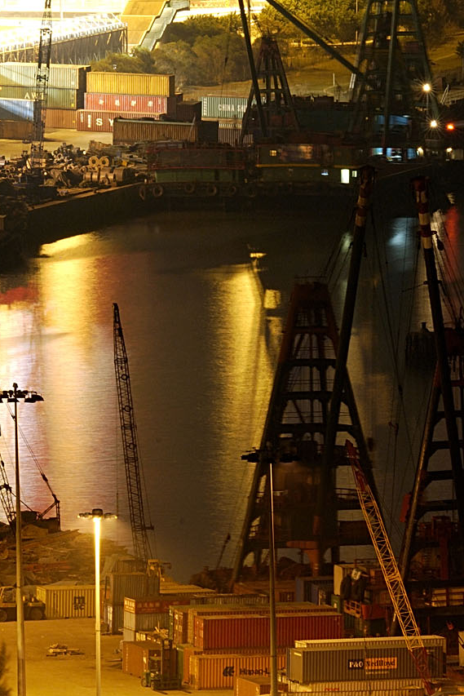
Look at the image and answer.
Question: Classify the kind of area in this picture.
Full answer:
The area seen from above is a port.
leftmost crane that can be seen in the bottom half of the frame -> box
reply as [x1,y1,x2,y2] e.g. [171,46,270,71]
[0,374,58,517]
